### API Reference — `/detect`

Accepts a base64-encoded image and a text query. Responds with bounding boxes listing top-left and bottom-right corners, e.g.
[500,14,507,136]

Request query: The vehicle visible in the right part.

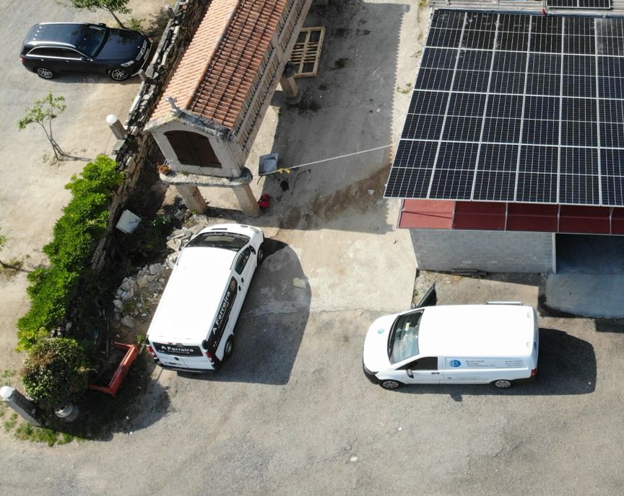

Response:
[357,283,539,390]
